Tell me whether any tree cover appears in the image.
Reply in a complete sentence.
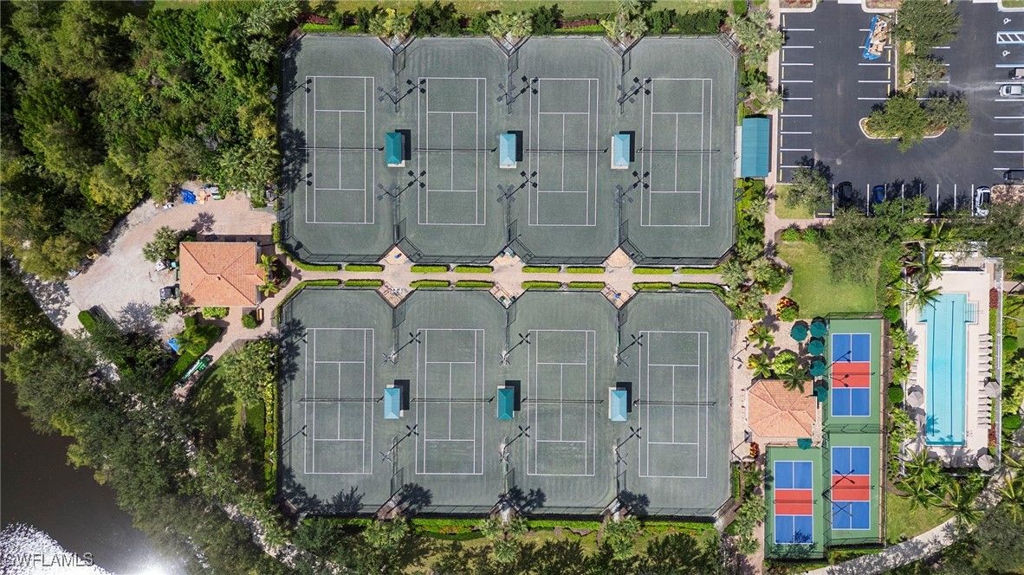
Yes, there is tree cover in the image.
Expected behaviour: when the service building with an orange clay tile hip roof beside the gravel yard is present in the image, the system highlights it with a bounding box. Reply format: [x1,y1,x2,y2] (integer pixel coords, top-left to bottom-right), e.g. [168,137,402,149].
[179,242,268,306]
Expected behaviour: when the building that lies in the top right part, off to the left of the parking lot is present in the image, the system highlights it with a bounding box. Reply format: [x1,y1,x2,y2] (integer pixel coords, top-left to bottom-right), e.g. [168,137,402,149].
[737,117,769,178]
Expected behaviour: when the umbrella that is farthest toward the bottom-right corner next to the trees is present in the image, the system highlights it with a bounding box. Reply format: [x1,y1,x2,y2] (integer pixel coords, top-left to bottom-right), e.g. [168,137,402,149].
[973,454,993,472]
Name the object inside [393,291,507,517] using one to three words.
tennis court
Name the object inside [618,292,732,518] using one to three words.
tennis court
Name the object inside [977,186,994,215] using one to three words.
car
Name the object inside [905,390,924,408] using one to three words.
umbrella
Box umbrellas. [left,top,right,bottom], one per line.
[790,323,808,341]
[973,454,993,472]
[978,380,998,397]
[808,320,827,337]
[796,437,812,451]
[808,359,825,376]
[905,390,924,408]
[806,338,824,356]
[813,385,829,403]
